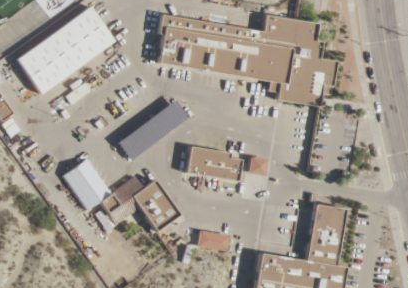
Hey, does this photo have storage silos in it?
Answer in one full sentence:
No, the photo shows no storage silo.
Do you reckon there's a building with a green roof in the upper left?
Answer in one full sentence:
No, no building with a green roof appears in the upper left.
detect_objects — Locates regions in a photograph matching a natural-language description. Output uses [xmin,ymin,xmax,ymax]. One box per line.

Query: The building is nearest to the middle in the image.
[186,148,244,181]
